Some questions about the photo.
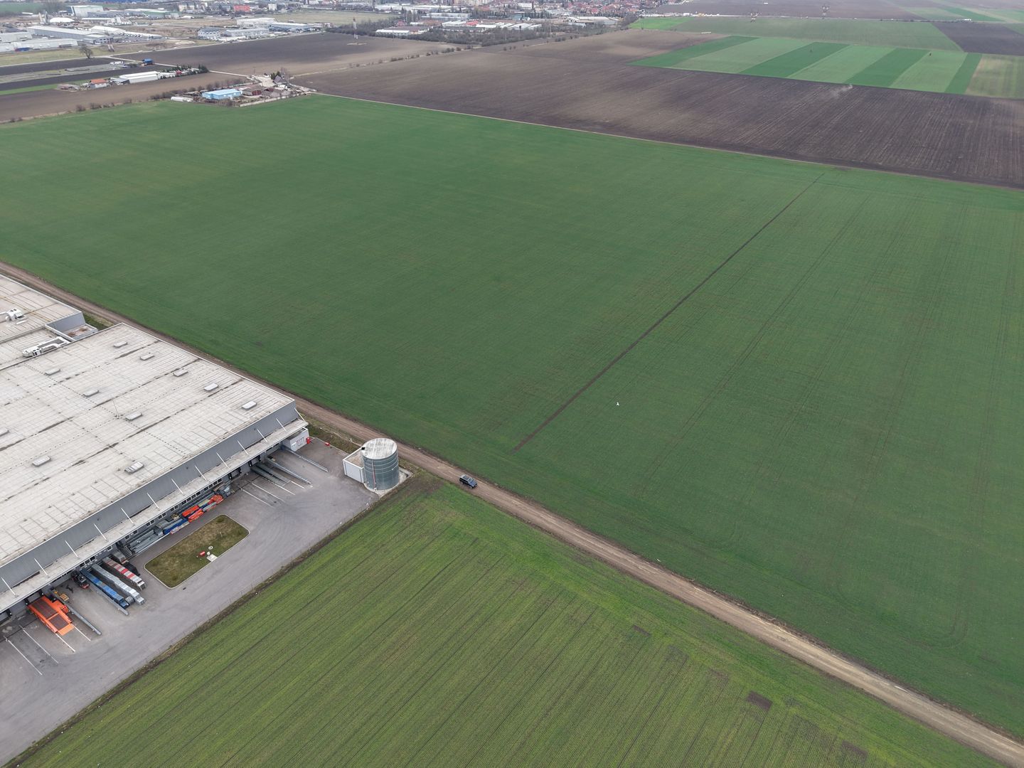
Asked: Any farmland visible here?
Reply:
Yes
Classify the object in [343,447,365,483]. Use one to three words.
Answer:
building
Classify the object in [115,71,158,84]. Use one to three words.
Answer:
barn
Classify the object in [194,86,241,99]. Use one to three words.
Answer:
shed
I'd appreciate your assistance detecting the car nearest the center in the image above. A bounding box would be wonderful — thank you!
[456,474,475,488]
